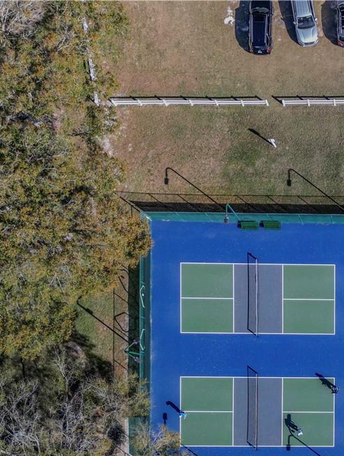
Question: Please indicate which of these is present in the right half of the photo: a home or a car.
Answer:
car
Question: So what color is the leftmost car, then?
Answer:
black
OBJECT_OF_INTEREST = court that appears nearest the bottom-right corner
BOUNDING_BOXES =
[180,376,335,447]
